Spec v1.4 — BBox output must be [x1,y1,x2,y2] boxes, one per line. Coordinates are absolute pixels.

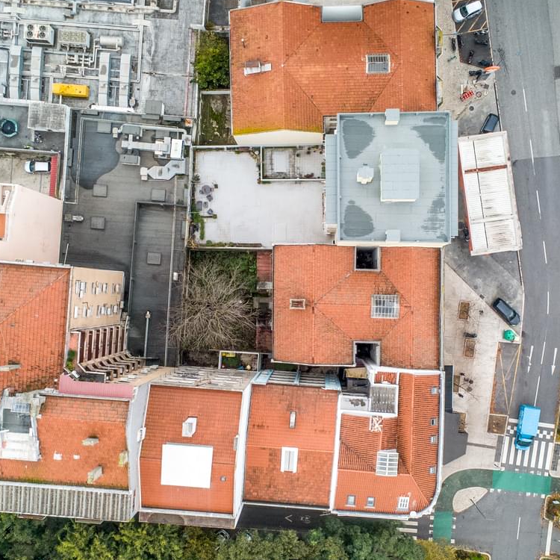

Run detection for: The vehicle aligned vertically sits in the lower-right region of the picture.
[518,405,542,450]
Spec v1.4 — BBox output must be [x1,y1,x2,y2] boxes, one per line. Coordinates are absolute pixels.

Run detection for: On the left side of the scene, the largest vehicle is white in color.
[21,158,51,174]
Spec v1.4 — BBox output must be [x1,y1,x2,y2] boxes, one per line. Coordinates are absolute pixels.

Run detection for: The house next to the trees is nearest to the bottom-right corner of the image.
[335,363,468,518]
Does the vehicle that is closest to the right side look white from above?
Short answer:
No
